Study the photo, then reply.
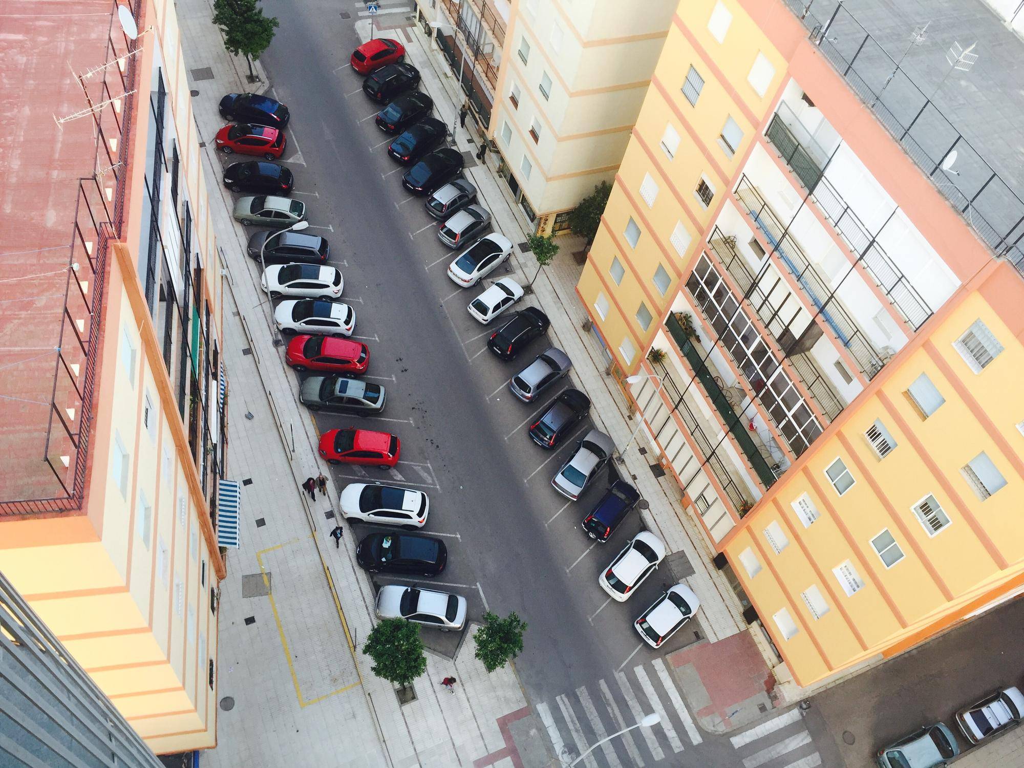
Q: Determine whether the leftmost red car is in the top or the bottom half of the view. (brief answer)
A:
top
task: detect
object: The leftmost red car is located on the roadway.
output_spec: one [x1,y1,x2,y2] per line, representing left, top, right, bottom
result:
[214,122,286,159]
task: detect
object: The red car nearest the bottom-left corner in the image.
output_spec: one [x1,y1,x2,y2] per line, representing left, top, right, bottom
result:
[320,426,403,472]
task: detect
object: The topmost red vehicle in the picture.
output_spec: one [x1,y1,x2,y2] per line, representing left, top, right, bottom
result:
[350,40,407,77]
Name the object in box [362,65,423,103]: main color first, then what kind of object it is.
black car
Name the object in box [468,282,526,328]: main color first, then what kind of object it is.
white car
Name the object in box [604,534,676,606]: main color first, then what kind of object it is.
white car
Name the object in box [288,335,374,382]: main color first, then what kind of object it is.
red car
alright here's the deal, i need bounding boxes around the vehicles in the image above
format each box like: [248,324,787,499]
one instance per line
[301,378,390,423]
[882,724,968,768]
[488,310,555,364]
[373,95,437,136]
[638,585,708,659]
[320,426,403,472]
[446,235,517,288]
[350,40,407,77]
[233,194,311,233]
[581,483,648,551]
[424,180,480,222]
[529,393,596,451]
[604,534,676,606]
[263,260,346,301]
[362,65,423,103]
[223,161,296,198]
[549,436,622,504]
[402,151,468,196]
[438,210,495,253]
[375,586,470,636]
[468,282,526,328]
[508,351,576,405]
[277,296,359,340]
[249,230,332,266]
[340,483,434,534]
[358,534,450,583]
[288,335,374,382]
[386,121,452,165]
[217,94,289,131]
[214,122,286,159]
